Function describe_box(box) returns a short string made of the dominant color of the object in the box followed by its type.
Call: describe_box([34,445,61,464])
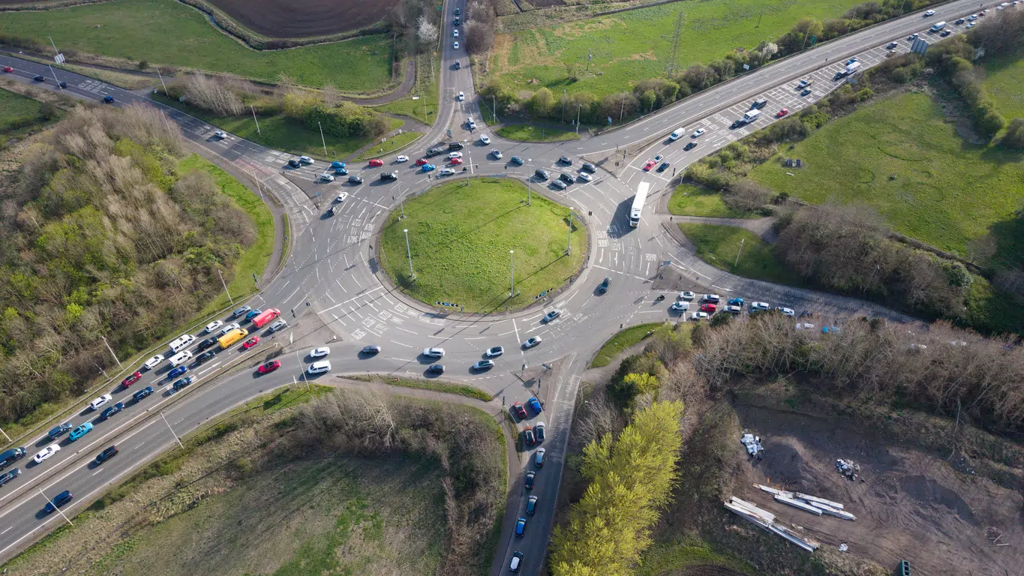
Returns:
white car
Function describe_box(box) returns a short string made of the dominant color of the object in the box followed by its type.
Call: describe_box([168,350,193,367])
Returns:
white vehicle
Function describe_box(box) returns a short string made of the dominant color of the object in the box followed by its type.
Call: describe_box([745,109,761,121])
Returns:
white vehicle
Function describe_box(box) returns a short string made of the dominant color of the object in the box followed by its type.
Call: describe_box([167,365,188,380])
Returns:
blue car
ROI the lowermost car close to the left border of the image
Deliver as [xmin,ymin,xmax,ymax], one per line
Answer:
[46,491,71,511]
